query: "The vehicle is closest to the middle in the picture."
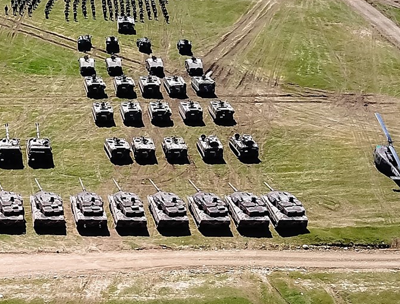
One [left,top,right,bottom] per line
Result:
[194,131,222,159]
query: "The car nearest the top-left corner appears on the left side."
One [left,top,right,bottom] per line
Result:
[76,36,89,50]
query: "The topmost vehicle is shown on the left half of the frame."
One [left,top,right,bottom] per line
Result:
[115,12,134,31]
